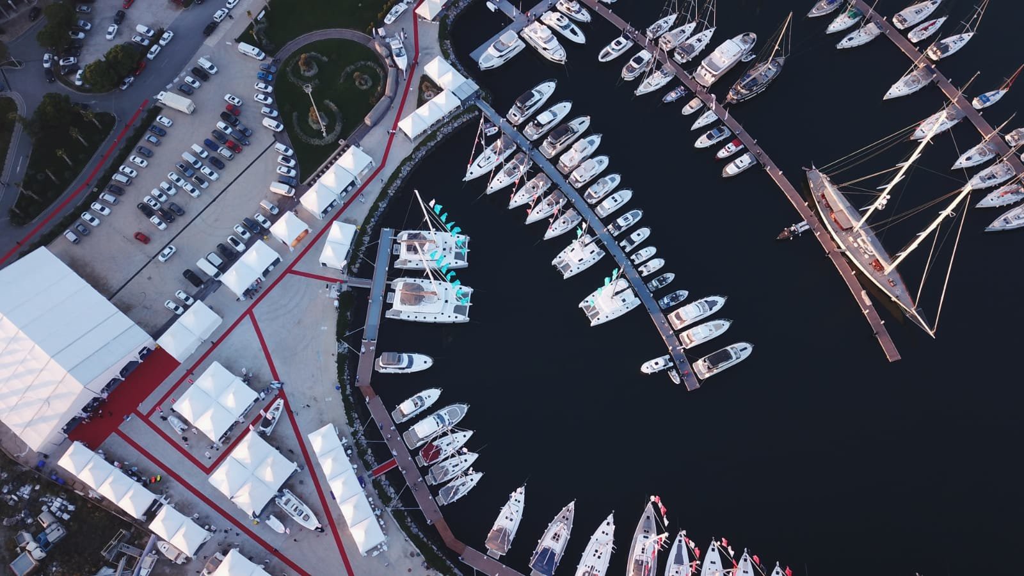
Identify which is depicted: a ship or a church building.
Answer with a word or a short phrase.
ship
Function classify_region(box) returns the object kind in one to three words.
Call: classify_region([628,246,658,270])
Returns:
boat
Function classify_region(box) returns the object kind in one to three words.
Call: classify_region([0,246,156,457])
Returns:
tent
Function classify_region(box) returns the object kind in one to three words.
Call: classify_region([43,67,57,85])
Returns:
car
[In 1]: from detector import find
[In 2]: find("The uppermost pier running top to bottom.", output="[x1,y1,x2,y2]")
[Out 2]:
[363,228,395,341]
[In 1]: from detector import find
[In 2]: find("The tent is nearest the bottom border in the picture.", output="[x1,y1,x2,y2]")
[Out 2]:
[207,549,274,576]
